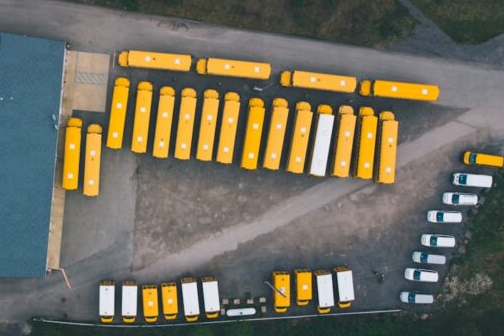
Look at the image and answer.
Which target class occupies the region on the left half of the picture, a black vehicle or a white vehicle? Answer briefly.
white vehicle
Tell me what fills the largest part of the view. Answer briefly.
paved ground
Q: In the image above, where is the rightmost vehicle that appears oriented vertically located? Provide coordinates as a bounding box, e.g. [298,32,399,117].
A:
[372,110,398,184]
